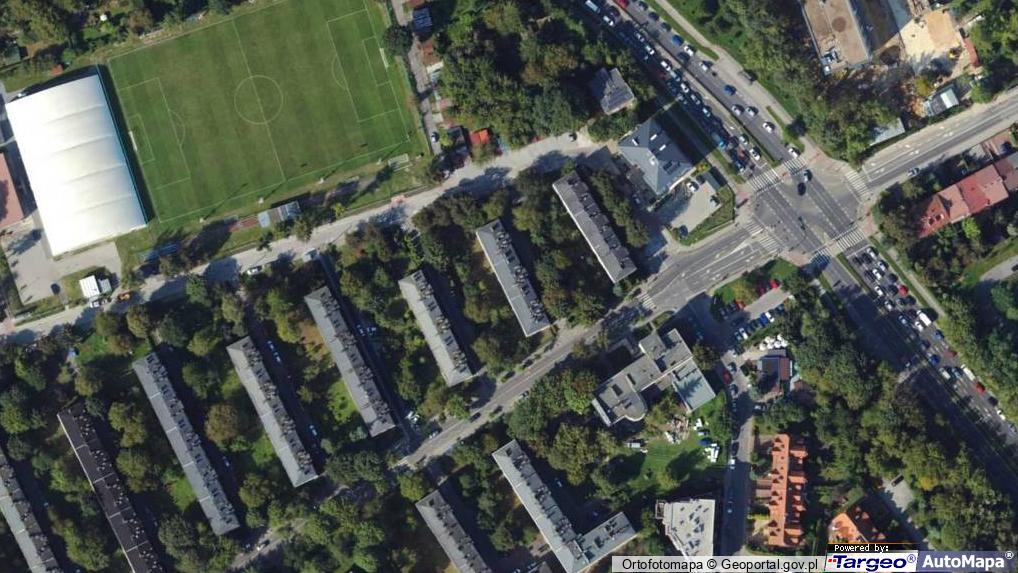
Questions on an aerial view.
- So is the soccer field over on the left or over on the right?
left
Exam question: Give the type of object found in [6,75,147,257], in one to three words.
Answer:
building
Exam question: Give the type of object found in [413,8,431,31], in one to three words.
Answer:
building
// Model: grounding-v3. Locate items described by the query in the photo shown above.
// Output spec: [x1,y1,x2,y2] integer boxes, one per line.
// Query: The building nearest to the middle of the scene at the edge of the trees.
[475,221,549,338]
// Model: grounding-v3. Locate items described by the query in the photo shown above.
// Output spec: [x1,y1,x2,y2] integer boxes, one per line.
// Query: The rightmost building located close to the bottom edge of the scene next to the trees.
[830,500,883,555]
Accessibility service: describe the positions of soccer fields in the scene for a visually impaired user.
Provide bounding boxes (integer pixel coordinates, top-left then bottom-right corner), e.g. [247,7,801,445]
[103,0,415,227]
